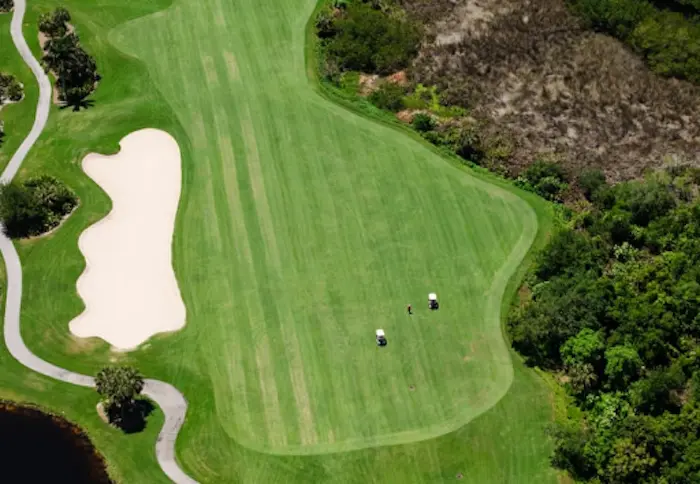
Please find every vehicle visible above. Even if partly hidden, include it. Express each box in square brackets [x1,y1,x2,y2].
[429,294,440,311]
[377,330,388,348]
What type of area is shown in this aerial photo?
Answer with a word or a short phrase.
golf course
